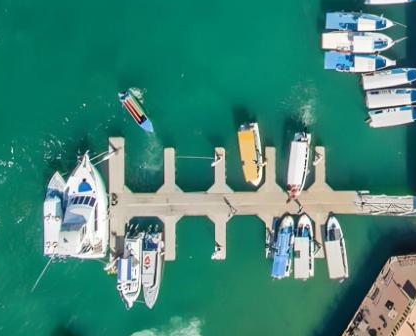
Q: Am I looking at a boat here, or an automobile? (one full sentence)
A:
It is a boat that can be seen here.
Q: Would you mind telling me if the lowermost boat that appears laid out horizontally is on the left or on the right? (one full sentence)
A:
The lowermost boat that appears laid out horizontally is on the right side of the image.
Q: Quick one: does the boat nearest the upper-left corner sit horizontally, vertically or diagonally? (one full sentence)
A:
The boat nearest the upper-left corner runs diagonally in the image.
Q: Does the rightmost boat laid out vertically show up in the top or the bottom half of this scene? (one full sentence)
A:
The bottom half of the photo is where the rightmost boat laid out vertically is.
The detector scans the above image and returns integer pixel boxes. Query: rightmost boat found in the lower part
[324,216,348,282]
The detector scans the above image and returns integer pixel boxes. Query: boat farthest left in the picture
[45,172,67,261]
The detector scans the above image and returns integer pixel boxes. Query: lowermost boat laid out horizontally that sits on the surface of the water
[365,105,416,128]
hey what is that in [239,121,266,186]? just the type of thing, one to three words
boat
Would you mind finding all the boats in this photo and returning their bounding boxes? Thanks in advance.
[361,67,416,91]
[324,216,348,282]
[324,11,399,32]
[270,215,296,281]
[119,227,145,309]
[239,121,266,186]
[141,227,163,309]
[58,147,110,259]
[321,31,403,52]
[292,214,314,281]
[323,51,398,71]
[119,90,154,132]
[365,89,416,109]
[45,172,67,261]
[285,131,311,197]
[365,105,416,128]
